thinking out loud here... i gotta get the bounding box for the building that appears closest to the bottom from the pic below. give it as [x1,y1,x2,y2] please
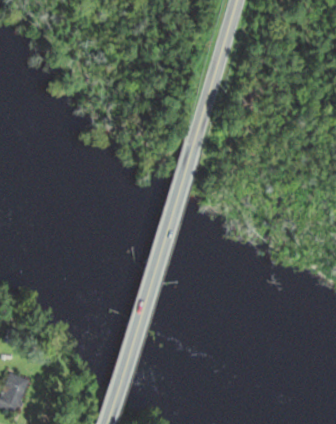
[0,372,28,409]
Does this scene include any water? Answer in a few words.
Yes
